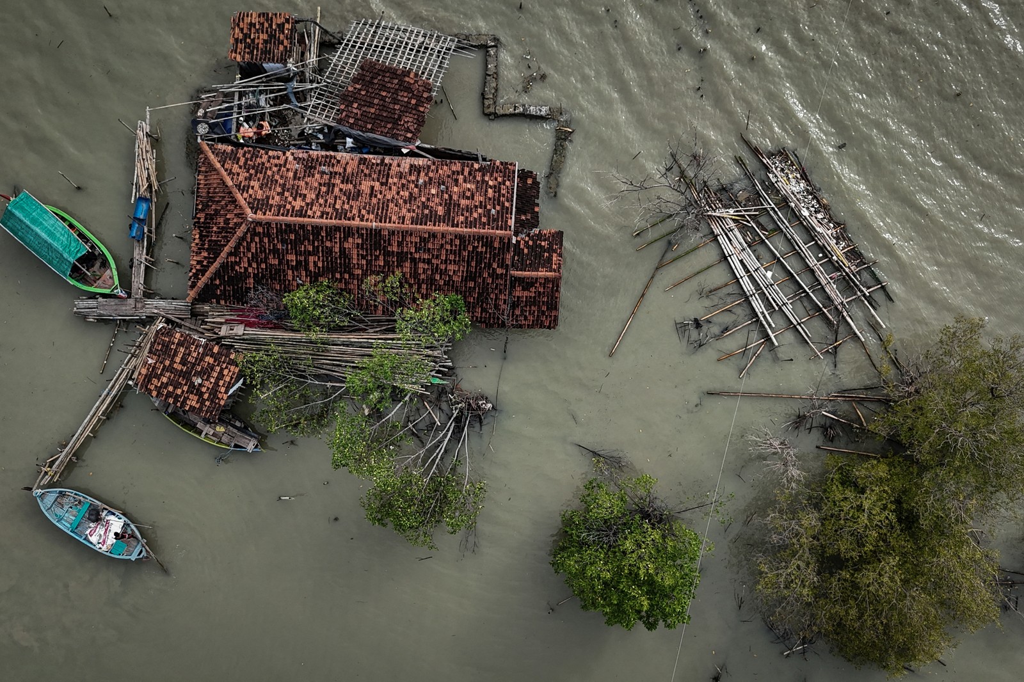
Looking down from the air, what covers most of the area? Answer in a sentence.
The bulk of the photo consists of water.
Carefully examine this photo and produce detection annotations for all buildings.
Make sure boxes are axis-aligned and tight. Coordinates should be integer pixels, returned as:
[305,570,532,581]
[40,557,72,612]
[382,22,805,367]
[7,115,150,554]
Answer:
[227,10,308,77]
[135,323,260,422]
[184,131,565,330]
[334,58,434,148]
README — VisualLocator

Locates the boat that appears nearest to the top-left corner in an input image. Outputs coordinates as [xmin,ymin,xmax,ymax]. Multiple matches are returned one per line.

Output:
[0,189,126,298]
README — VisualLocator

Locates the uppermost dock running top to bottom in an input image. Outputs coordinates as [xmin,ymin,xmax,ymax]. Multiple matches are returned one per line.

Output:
[131,107,163,299]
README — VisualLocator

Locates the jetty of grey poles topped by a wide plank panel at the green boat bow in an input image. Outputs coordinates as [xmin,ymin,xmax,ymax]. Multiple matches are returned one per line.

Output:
[73,294,195,323]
